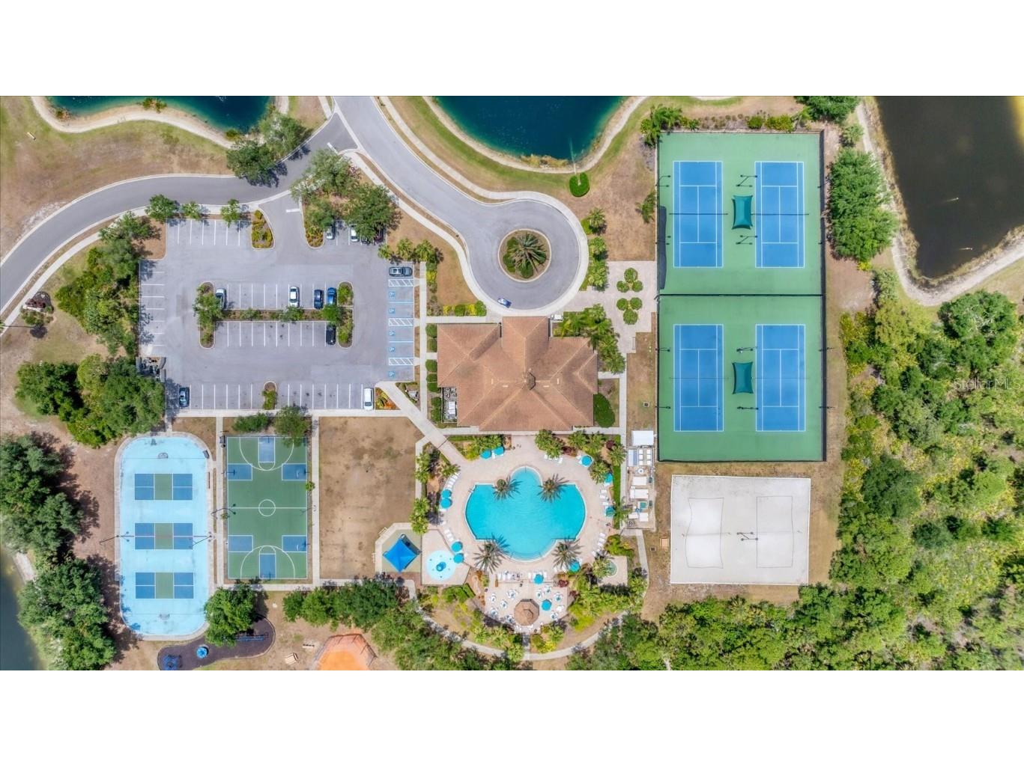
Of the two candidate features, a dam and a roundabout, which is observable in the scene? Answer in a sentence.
Of the two, only a roundabout appears.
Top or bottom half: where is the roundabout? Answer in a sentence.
Seen from above, the roundabout lies in the top half of the view.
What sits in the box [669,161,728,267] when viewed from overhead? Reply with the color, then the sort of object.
blue tennis court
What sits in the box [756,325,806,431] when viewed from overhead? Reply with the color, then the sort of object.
blue tennis court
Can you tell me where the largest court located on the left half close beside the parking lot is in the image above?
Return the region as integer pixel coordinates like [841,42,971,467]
[225,436,309,581]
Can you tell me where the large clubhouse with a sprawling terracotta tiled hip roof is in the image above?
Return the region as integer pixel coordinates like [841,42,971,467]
[437,316,598,431]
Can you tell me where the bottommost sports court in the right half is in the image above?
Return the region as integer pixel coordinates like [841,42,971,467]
[670,475,811,586]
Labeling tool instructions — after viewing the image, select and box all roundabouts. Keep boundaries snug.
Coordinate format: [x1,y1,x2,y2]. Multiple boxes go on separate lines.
[471,198,582,311]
